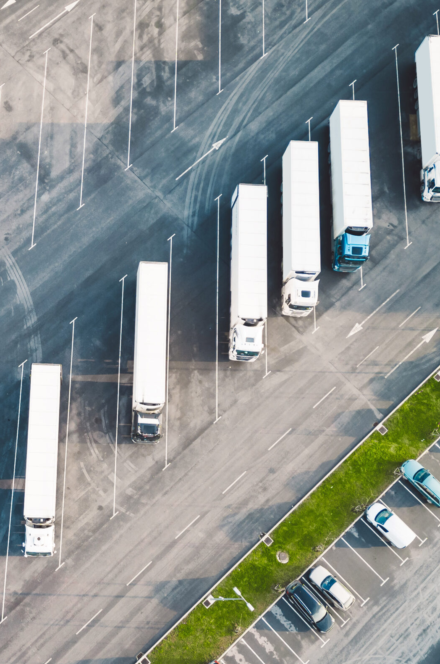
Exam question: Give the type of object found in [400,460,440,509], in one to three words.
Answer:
car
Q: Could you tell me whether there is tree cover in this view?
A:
No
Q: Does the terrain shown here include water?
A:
No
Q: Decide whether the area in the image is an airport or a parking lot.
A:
parking lot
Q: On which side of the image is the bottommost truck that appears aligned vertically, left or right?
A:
left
